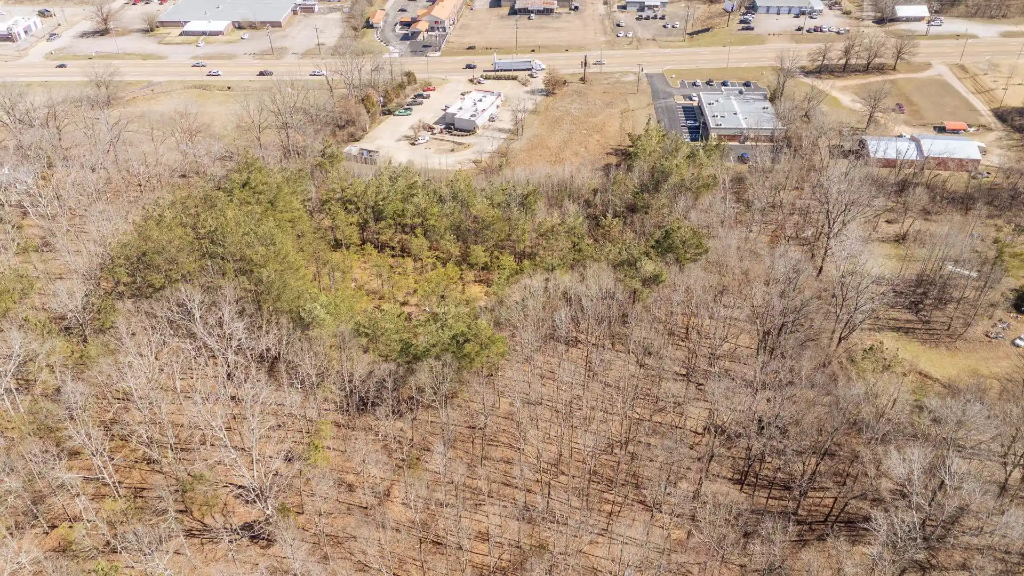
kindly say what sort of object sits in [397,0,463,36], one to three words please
building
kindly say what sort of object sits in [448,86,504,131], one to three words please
building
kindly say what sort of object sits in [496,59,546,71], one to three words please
vehicle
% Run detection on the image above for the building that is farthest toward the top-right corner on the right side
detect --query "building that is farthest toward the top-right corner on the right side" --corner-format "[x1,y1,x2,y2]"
[884,2,933,22]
